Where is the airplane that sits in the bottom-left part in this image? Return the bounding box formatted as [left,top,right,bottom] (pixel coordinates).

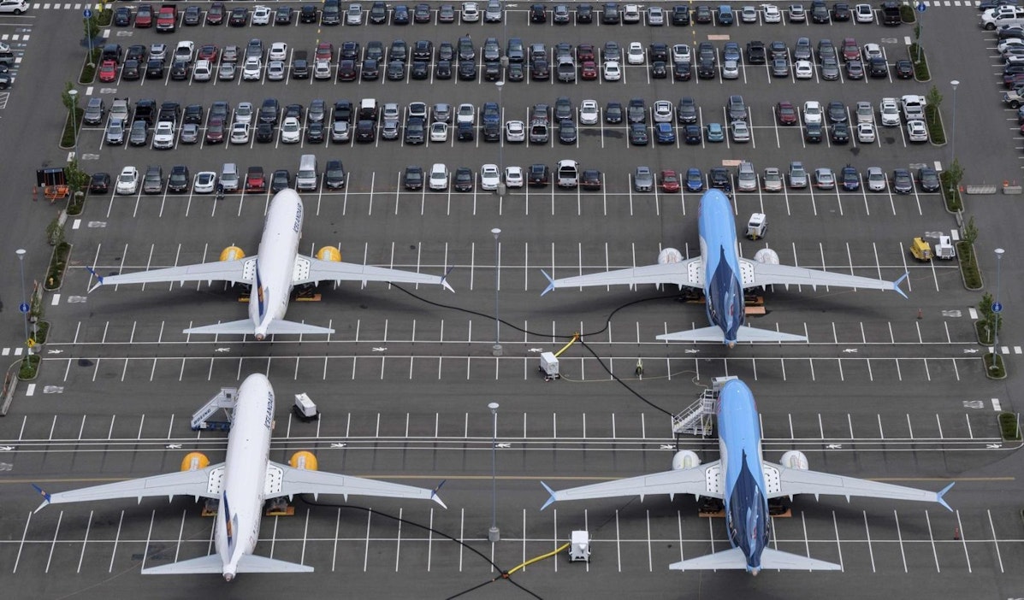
[32,373,448,585]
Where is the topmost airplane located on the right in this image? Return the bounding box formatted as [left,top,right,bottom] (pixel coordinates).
[539,190,910,349]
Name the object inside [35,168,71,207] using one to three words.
trailer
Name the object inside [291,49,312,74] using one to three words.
vehicle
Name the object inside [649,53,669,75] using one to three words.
car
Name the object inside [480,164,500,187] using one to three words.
car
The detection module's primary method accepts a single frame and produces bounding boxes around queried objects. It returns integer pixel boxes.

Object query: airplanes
[539,379,956,580]
[87,188,455,344]
[539,190,910,349]
[32,373,448,585]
